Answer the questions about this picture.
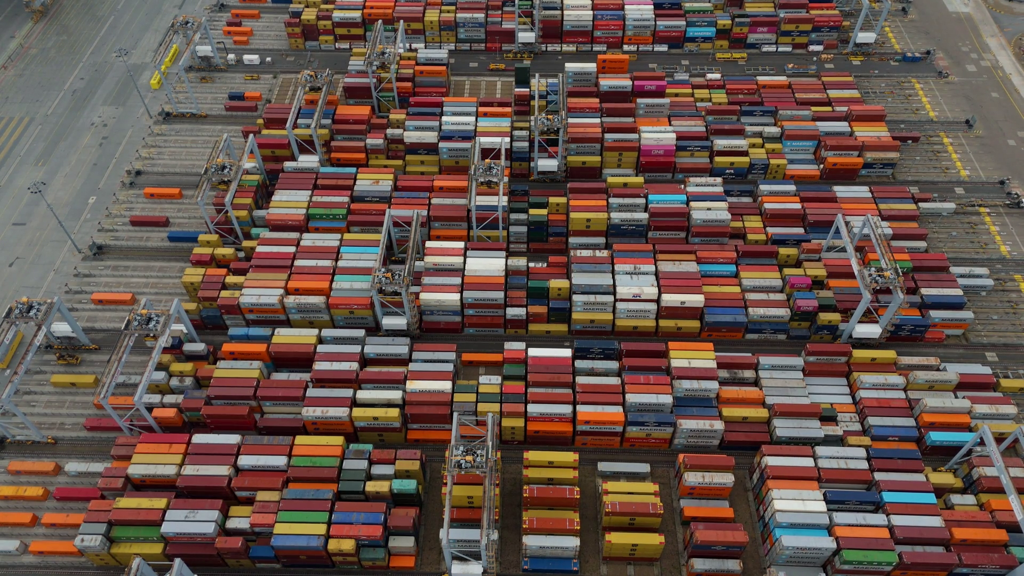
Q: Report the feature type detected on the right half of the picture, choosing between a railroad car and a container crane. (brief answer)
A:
container crane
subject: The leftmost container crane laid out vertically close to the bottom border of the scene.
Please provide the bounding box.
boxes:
[442,411,504,576]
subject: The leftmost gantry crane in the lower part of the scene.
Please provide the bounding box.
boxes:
[0,294,103,443]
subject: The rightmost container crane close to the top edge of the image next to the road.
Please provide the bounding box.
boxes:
[843,0,895,56]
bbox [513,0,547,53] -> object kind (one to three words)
container crane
